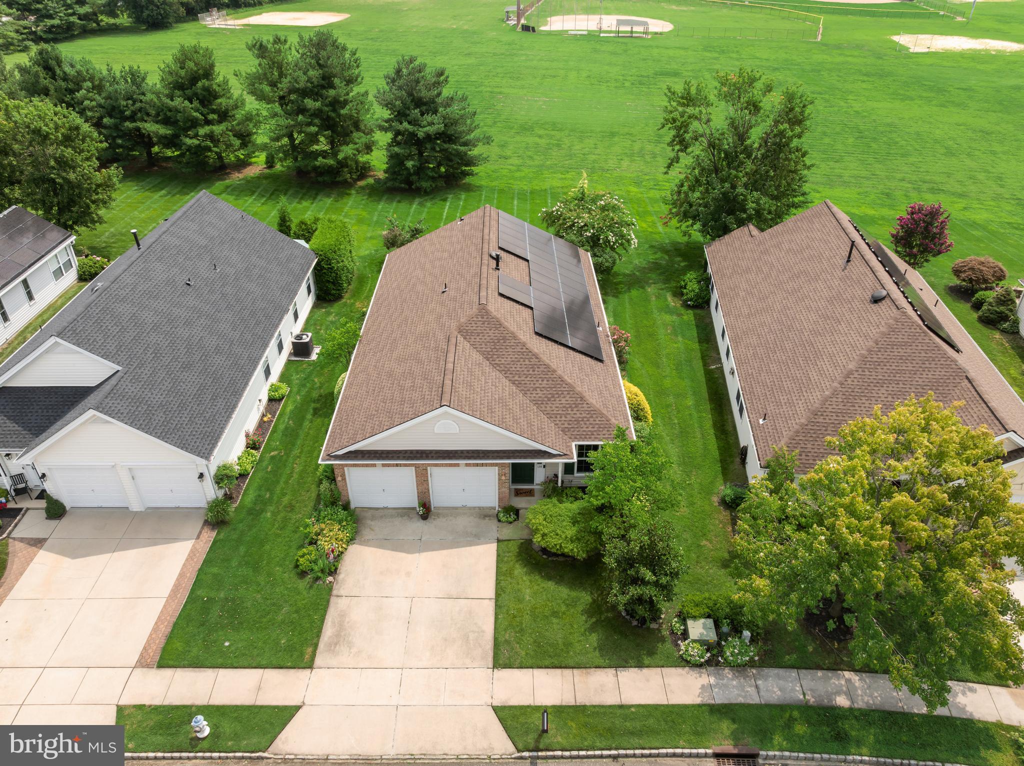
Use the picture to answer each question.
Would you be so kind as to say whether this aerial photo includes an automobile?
No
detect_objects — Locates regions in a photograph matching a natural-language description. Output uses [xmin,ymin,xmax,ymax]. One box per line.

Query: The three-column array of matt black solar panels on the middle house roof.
[499,210,602,360]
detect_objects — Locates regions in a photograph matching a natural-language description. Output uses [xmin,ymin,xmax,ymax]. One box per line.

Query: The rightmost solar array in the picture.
[848,218,959,350]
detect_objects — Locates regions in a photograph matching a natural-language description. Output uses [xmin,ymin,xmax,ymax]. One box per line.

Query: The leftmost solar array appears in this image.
[0,209,72,291]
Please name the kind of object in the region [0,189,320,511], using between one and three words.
house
